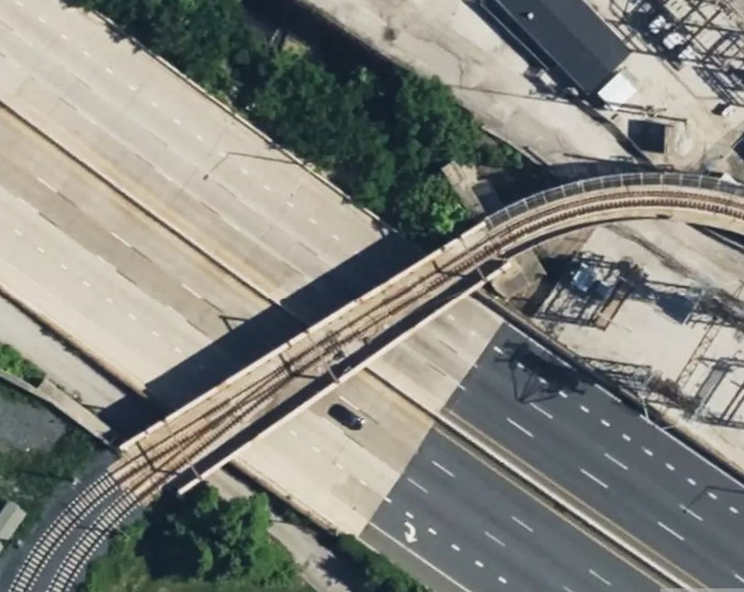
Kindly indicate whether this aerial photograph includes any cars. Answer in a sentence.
Yes, there is a car in the image.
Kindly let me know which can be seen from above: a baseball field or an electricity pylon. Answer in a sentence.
Looking from above, you can make out an electricity pylon.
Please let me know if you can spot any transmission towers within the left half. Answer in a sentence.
No, I can find no transmission tower within the left half.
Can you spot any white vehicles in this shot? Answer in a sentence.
No, I find no white vehicle anywhere in the image.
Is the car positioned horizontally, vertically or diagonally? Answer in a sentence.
What the image shows is the car lying diagonally.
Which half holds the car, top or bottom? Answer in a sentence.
Seen from above, the car lies in the bottom half of the view.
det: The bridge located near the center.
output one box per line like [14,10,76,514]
[104,171,744,507]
